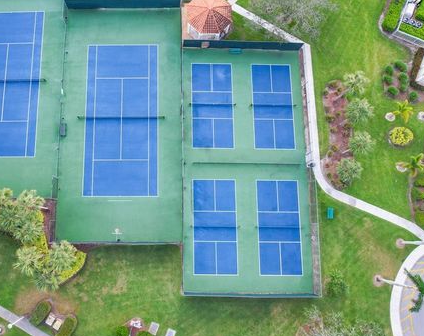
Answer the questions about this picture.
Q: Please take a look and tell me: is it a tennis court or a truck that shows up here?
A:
tennis court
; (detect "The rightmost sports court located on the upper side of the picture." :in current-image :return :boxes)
[243,49,306,164]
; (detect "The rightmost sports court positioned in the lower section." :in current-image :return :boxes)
[245,164,313,294]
